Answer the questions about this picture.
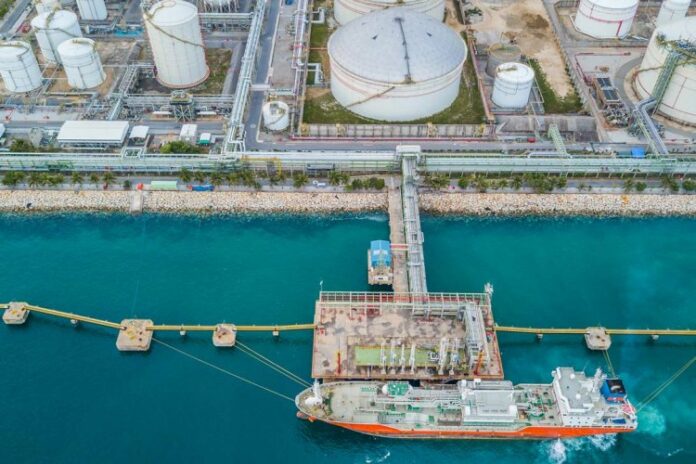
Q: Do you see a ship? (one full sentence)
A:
Yes, you can see a ship in this photo.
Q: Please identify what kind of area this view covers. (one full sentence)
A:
It's an industrial area.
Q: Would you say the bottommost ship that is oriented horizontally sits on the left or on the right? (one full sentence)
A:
The bottommost ship that is oriented horizontally sits on the right side.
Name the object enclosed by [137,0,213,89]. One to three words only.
storage tank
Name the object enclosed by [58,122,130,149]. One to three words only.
shed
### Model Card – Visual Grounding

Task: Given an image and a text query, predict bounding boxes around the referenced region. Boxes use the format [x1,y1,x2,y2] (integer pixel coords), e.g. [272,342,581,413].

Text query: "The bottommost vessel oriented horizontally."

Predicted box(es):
[294,353,639,438]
